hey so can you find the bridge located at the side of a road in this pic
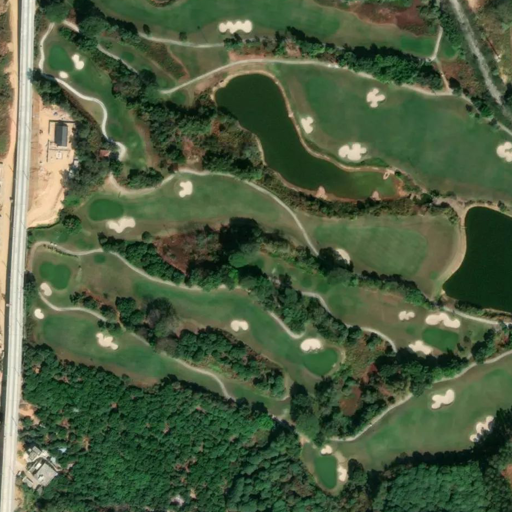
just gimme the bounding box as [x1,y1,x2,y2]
[0,0,34,512]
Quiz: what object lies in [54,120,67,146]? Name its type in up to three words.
shed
